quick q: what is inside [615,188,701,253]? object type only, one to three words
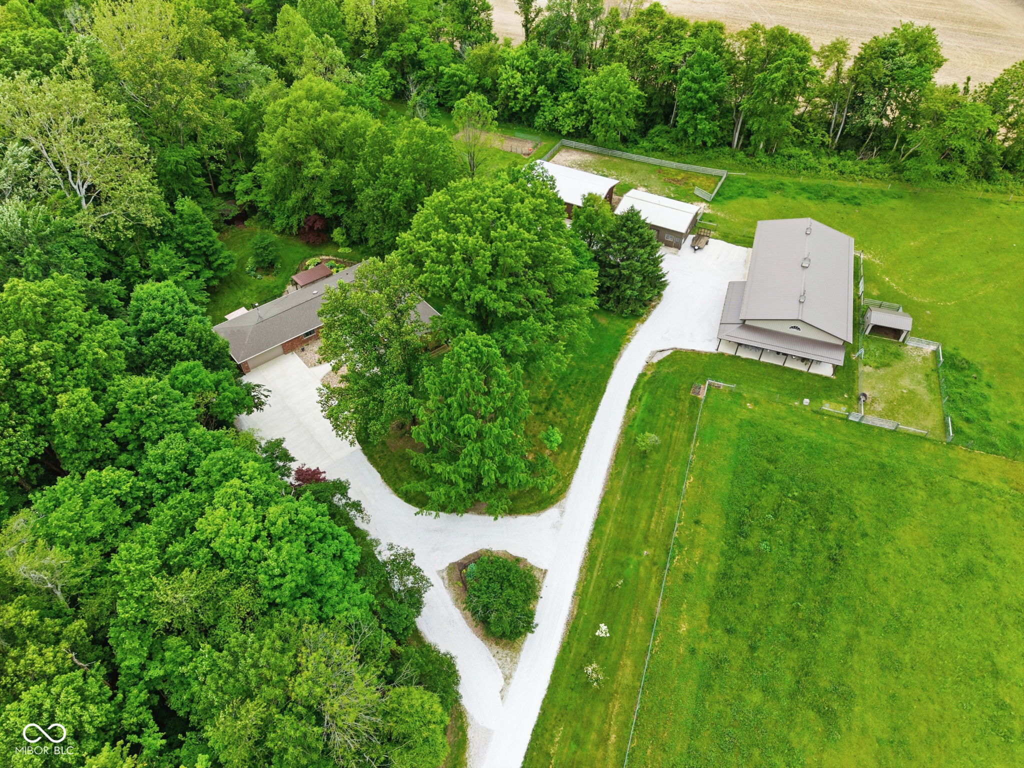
building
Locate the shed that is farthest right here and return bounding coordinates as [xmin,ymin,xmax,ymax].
[865,304,910,341]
